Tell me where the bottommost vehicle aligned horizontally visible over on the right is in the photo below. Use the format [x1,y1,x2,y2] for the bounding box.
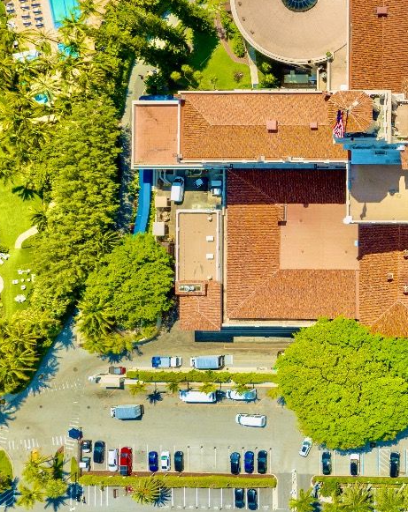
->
[237,411,270,427]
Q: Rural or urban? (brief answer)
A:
urban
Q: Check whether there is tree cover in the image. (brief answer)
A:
Yes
